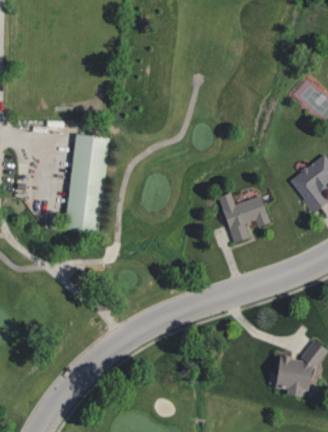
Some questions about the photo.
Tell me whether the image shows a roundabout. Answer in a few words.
No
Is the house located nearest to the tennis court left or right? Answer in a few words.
right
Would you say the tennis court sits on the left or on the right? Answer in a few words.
right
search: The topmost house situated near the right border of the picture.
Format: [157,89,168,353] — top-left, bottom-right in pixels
[293,156,328,212]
